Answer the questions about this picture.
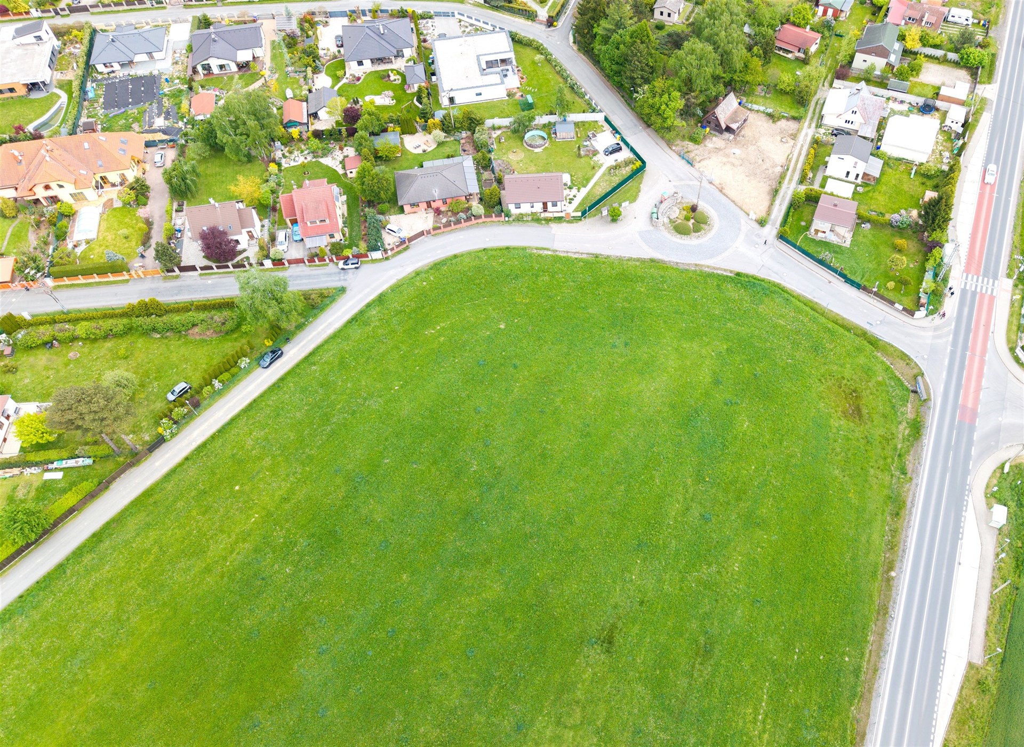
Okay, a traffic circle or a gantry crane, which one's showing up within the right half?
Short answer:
traffic circle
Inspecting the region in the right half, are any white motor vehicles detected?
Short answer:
Yes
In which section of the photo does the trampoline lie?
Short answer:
top right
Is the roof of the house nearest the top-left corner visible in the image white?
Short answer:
Yes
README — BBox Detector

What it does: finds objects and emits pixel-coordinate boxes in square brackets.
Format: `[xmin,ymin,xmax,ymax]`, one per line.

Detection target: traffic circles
[635,181,747,267]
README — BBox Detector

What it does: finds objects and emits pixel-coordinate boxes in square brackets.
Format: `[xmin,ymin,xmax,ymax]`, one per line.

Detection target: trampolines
[918,97,940,117]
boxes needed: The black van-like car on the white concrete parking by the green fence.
[602,140,625,156]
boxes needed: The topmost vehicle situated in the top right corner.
[945,8,977,29]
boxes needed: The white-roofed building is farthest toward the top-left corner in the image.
[0,13,73,97]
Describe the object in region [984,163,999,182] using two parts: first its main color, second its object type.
white car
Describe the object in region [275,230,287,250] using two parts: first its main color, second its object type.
white vehicle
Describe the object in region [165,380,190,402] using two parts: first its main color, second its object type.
white car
